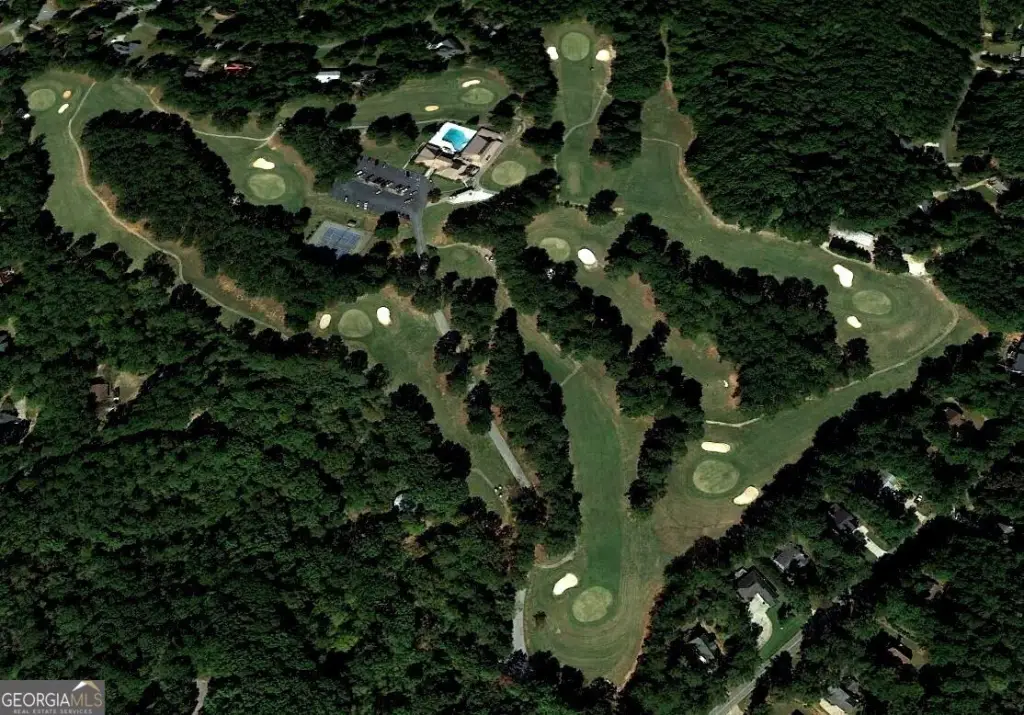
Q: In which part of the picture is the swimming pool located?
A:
top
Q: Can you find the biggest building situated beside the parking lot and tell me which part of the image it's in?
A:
top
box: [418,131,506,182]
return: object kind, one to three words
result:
building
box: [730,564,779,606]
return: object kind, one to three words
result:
house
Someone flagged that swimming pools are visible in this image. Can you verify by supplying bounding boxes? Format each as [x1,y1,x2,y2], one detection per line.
[430,122,477,152]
